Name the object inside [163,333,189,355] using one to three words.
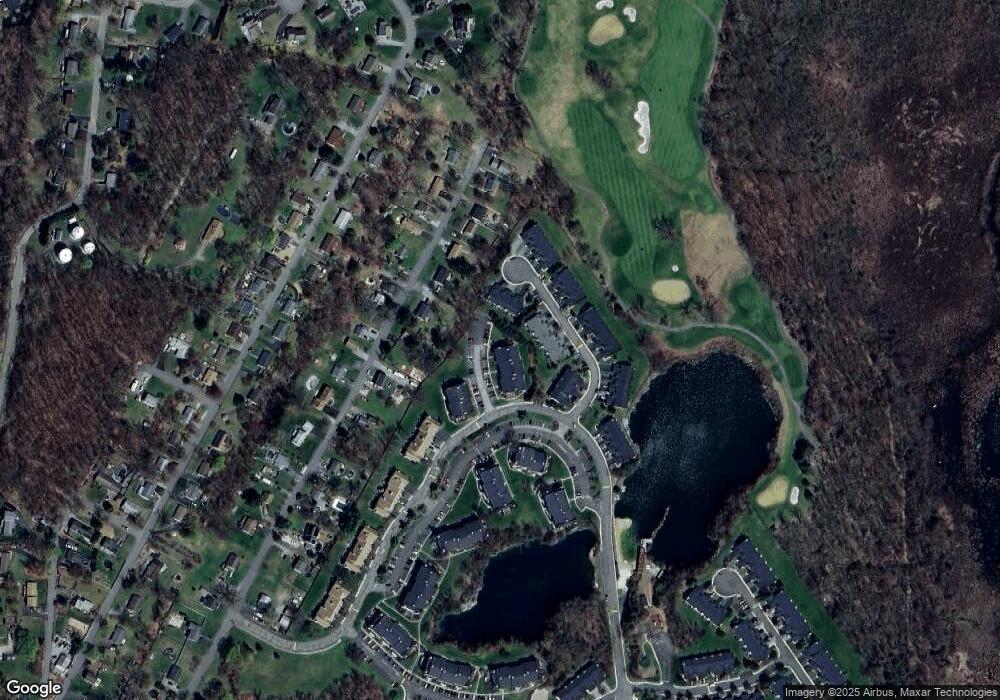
house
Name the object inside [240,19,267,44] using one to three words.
house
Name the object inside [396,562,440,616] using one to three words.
building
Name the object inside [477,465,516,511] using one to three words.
building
